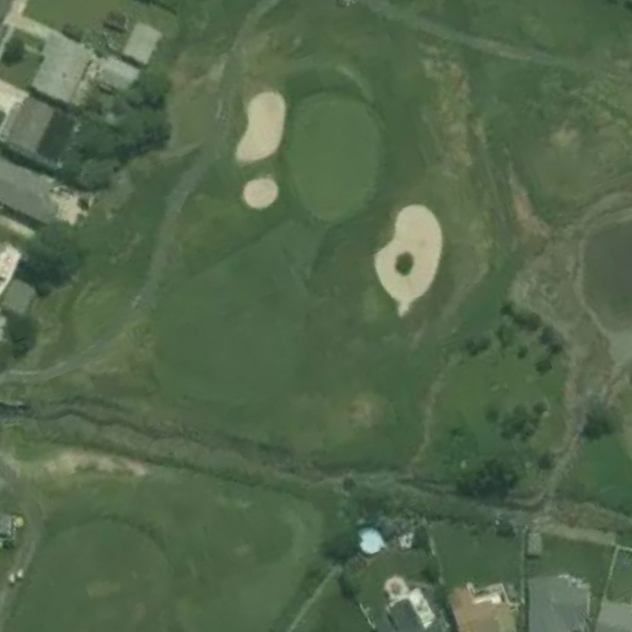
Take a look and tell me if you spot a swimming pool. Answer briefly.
Yes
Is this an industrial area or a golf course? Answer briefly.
golf course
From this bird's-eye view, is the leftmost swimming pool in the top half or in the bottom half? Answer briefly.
bottom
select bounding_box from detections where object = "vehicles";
[7,572,14,583]
[16,567,23,578]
